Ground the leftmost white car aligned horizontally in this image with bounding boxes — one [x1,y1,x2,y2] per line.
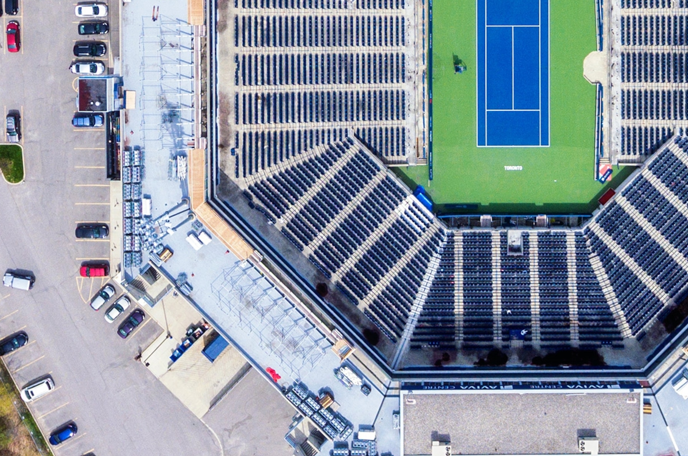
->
[3,271,37,289]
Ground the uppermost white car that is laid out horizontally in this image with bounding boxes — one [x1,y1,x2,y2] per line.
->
[75,2,109,18]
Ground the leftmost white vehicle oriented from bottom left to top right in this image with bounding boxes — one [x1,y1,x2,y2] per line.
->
[21,375,57,403]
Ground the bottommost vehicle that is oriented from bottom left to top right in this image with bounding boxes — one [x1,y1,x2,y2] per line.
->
[48,420,80,447]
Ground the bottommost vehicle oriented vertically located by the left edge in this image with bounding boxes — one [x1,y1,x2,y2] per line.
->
[6,111,21,143]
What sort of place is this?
sports ground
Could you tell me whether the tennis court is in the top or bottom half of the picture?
top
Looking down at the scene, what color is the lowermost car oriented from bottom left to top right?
blue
